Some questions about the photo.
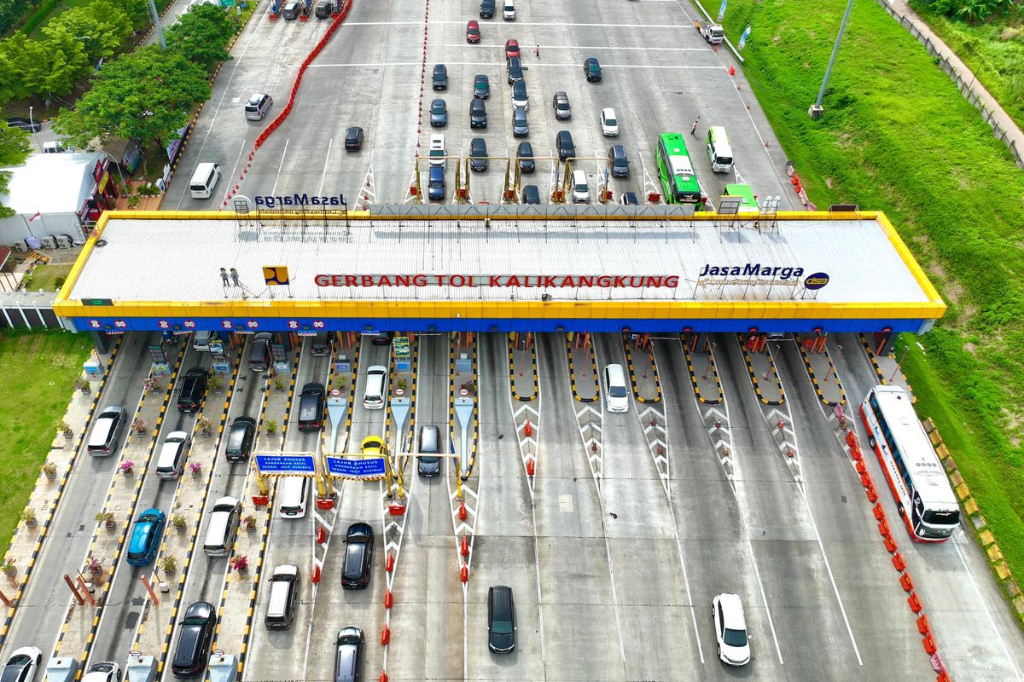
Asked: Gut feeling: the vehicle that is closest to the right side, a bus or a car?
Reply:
bus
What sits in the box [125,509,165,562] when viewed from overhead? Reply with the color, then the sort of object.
blue car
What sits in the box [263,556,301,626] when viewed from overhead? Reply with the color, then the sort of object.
white car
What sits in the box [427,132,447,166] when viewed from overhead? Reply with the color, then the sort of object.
white car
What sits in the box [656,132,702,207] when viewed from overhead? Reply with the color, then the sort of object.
green bus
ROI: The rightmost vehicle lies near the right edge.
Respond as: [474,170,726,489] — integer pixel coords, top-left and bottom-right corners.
[865,388,978,542]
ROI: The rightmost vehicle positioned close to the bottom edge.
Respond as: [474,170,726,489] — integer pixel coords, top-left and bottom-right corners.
[706,587,753,663]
